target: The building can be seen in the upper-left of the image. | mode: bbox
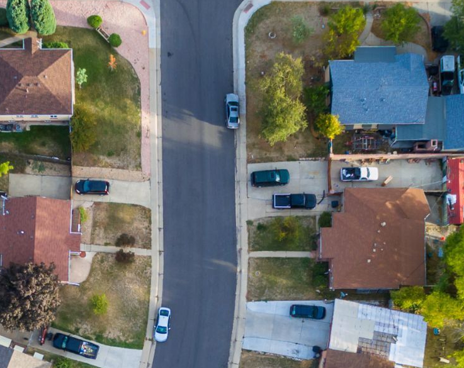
[0,28,72,121]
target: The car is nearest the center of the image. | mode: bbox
[250,167,290,186]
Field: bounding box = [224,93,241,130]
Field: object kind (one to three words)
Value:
car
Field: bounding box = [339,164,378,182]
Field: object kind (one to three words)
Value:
vehicle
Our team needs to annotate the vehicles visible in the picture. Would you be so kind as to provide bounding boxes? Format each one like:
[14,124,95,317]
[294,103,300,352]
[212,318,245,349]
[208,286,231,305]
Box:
[339,164,378,182]
[224,93,241,130]
[289,303,326,321]
[250,167,290,186]
[438,50,458,92]
[51,333,100,359]
[272,191,316,209]
[430,24,446,53]
[153,307,170,342]
[74,177,110,195]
